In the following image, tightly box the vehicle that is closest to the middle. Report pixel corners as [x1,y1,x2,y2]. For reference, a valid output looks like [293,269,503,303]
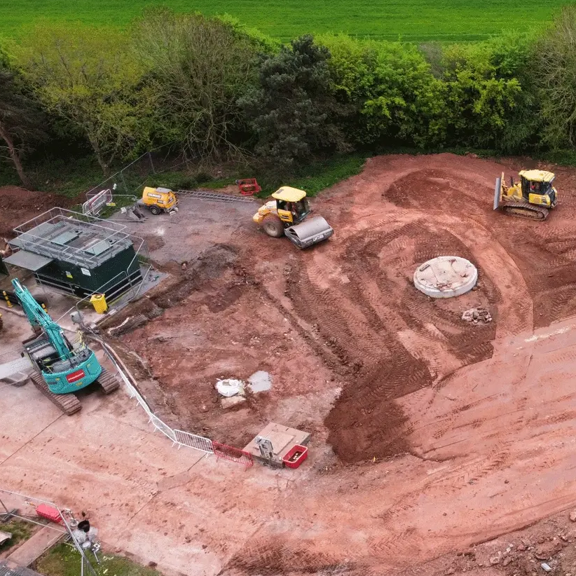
[252,191,339,258]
